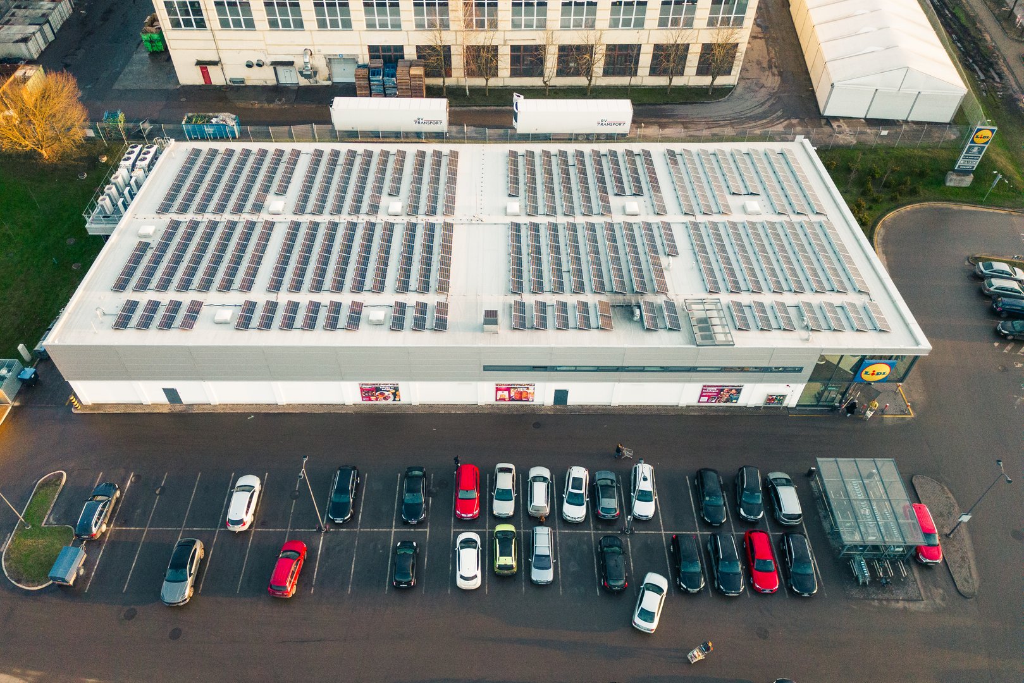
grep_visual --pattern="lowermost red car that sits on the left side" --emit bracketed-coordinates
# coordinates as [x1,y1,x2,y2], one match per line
[268,541,309,598]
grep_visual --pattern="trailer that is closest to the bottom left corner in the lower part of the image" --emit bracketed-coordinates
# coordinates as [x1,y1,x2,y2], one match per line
[48,540,95,589]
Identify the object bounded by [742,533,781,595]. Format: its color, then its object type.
red car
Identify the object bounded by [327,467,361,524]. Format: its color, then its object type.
black car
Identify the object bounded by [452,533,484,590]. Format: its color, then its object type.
white car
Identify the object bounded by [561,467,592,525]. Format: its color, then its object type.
white car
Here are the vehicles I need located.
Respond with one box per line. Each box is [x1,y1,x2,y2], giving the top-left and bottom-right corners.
[527,529,558,586]
[561,467,592,525]
[708,534,747,597]
[490,526,520,575]
[159,540,204,607]
[452,465,482,521]
[672,537,708,594]
[329,97,449,140]
[391,541,420,589]
[630,465,659,522]
[72,484,119,539]
[525,468,554,517]
[973,261,1024,283]
[592,472,622,519]
[993,318,1024,341]
[742,533,781,595]
[327,467,361,524]
[899,505,943,567]
[268,541,309,598]
[398,466,428,525]
[779,534,821,598]
[734,466,768,523]
[989,294,1024,320]
[452,533,484,590]
[632,572,670,635]
[489,463,519,518]
[224,476,262,532]
[766,472,803,526]
[513,100,633,140]
[978,276,1024,299]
